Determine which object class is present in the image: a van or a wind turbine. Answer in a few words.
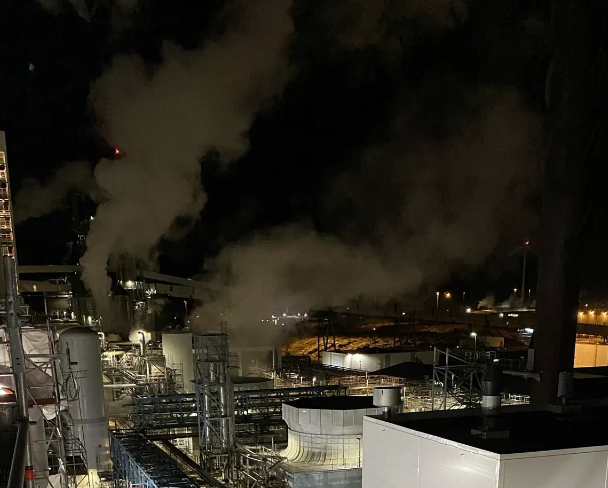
wind turbine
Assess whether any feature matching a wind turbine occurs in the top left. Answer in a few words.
No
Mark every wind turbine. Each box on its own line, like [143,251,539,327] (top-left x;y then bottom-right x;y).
[504,216,544,308]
